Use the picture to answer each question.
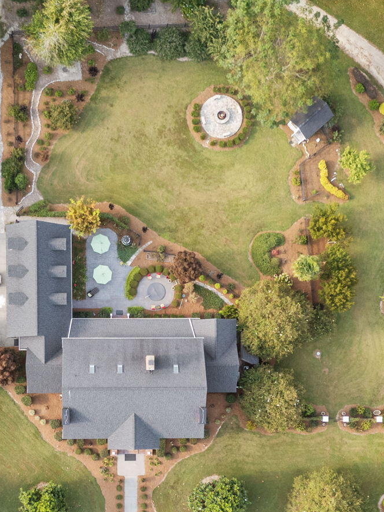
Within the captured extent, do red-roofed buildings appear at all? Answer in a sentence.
No, no red-roofed building is visible in the scene.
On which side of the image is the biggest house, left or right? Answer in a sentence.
The biggest house appears in the left half of the scene.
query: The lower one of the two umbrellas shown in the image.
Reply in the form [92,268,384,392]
[94,265,112,284]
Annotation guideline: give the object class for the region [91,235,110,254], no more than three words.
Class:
umbrella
